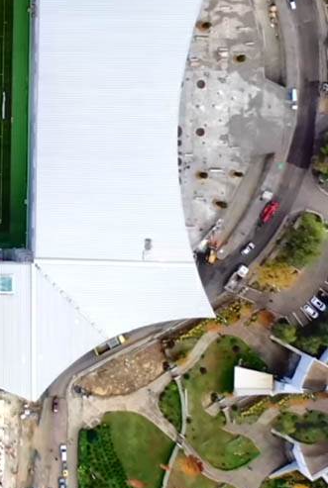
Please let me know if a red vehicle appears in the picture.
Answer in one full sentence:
Yes, the image includes a red vehicle.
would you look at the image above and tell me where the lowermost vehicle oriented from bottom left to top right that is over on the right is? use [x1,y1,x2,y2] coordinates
[224,264,253,293]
